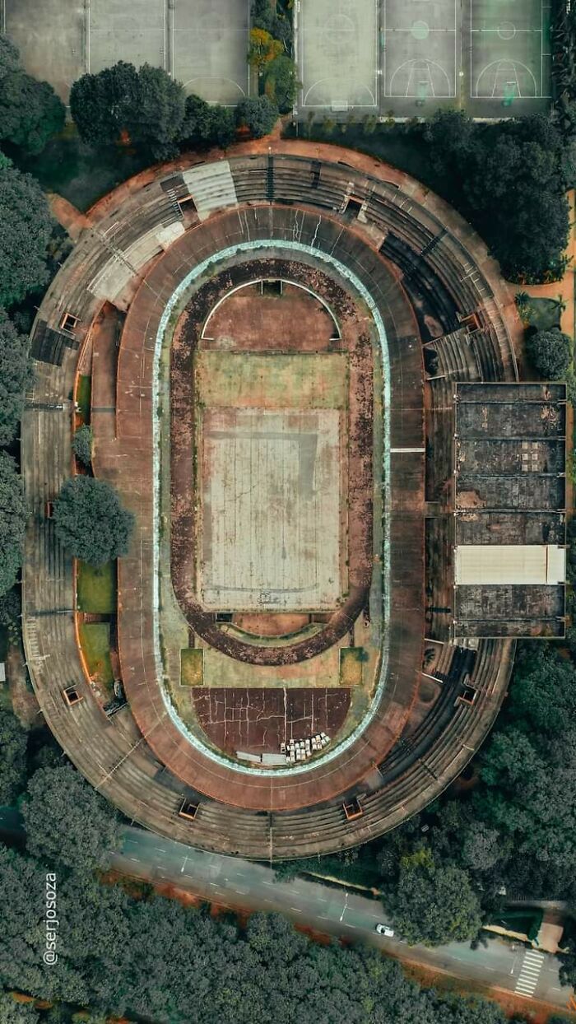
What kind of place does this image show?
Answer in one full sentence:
The area seen from above is a sports ground.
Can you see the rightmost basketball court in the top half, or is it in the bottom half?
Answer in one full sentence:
The top half of the photo is where the rightmost basketball court is.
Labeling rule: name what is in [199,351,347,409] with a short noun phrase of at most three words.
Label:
sports field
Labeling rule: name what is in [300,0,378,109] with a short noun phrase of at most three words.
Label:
sports court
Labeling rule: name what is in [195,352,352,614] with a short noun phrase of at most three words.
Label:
sports field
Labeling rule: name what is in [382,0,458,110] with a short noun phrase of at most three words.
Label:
basketball court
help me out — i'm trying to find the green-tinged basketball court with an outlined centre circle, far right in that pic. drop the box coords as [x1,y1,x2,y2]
[469,0,551,110]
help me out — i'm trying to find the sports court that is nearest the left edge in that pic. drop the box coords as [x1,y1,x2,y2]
[3,0,83,107]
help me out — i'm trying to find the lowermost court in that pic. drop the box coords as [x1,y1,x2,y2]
[192,688,351,757]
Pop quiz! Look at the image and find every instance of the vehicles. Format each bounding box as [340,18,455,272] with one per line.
[375,924,393,936]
